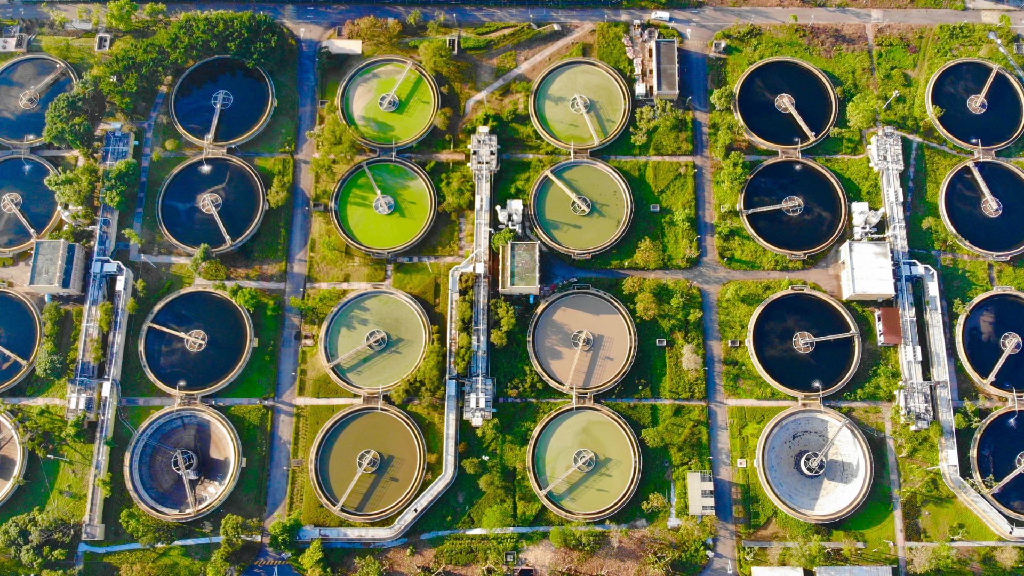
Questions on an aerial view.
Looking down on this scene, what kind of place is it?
industrial area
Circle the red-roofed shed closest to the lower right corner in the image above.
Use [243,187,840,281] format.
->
[872,308,903,347]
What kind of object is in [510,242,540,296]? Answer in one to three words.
building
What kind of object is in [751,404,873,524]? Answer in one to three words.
storage tank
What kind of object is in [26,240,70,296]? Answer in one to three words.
building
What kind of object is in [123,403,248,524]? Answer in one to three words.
storage tank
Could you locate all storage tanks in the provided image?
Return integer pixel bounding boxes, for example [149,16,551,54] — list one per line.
[952,286,1024,401]
[123,403,248,524]
[751,404,873,524]
[732,57,838,155]
[329,154,438,265]
[0,151,66,261]
[742,284,861,400]
[0,403,29,502]
[139,283,259,401]
[309,402,427,523]
[528,58,632,153]
[526,402,643,521]
[967,404,1024,523]
[336,55,440,150]
[0,279,47,392]
[735,155,848,265]
[527,157,635,265]
[936,156,1024,266]
[526,282,639,397]
[170,56,280,152]
[157,152,268,261]
[319,282,432,397]
[922,58,1024,153]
